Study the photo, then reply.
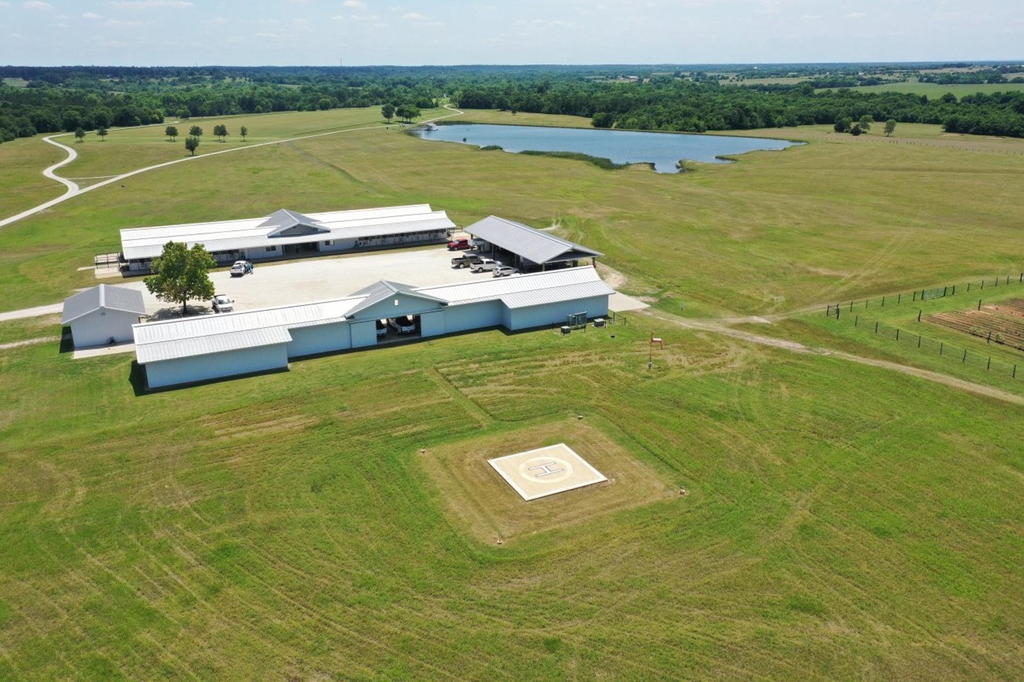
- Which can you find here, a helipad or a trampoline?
helipad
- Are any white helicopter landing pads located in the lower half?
Yes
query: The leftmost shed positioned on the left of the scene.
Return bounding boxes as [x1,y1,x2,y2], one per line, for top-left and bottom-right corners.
[60,283,145,347]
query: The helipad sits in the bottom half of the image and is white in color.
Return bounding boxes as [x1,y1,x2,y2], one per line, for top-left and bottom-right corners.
[487,442,607,502]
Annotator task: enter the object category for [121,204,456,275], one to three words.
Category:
barn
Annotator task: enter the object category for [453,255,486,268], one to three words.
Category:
vehicle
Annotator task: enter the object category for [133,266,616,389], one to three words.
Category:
barn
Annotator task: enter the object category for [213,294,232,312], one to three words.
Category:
vehicle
